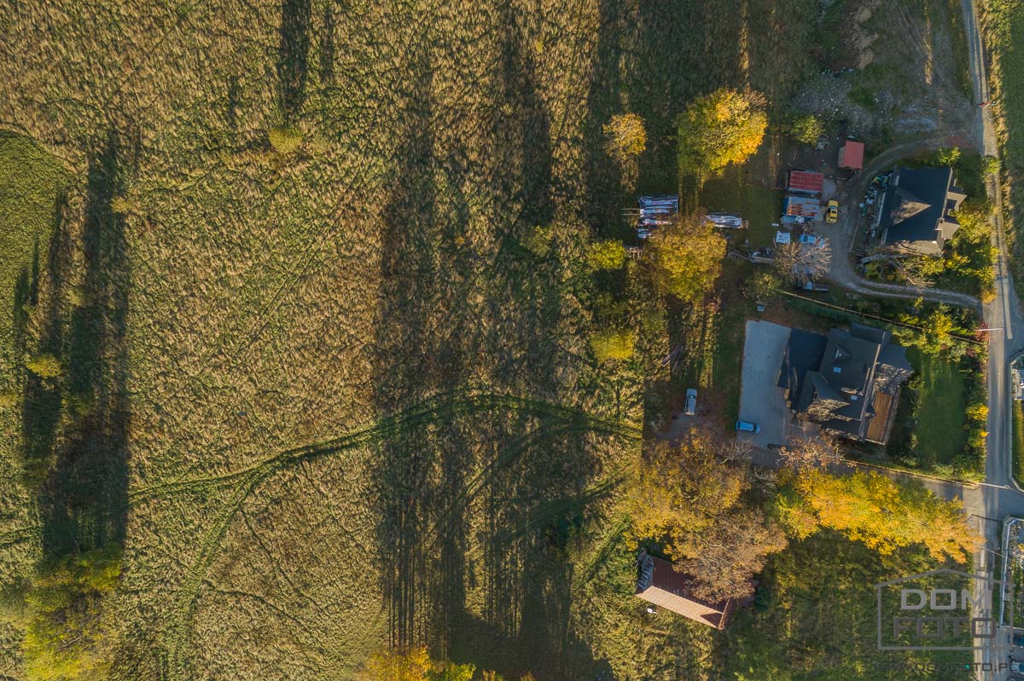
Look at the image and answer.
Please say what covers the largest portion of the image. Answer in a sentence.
What you mostly see from above here is grass.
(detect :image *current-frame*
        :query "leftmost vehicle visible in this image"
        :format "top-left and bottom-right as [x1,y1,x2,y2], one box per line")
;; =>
[685,389,697,415]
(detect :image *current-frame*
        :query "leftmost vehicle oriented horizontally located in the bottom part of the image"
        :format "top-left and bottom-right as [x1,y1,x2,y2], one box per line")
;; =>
[735,420,758,432]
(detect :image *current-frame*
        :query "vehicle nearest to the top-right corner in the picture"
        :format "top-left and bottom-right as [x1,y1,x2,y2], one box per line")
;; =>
[826,201,839,223]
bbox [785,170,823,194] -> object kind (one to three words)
shed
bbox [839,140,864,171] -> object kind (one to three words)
shed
